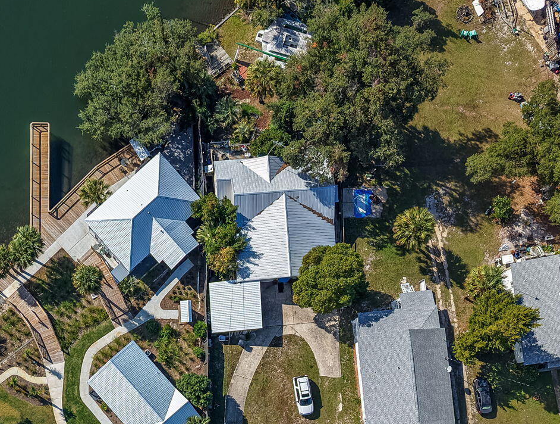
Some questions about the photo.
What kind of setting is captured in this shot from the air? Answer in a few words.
residential area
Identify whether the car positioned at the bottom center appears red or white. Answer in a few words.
white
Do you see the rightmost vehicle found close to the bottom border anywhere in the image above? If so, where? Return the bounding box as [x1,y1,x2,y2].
[474,378,493,416]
